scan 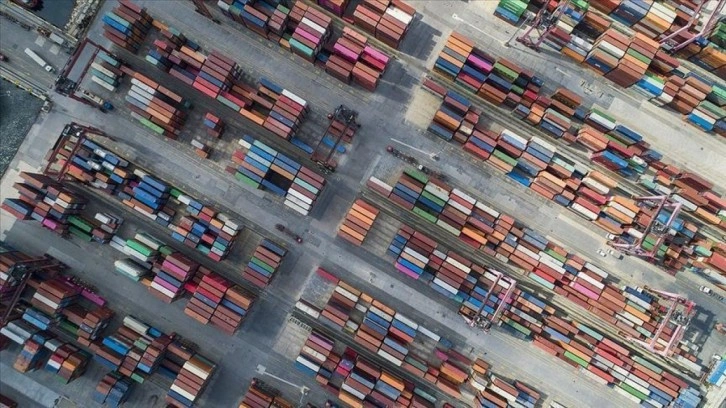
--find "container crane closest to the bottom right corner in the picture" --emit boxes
[615,285,699,363]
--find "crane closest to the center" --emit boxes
[313,106,367,177]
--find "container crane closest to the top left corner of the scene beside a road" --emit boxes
[50,35,133,114]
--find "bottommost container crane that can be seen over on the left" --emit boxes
[0,254,71,328]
